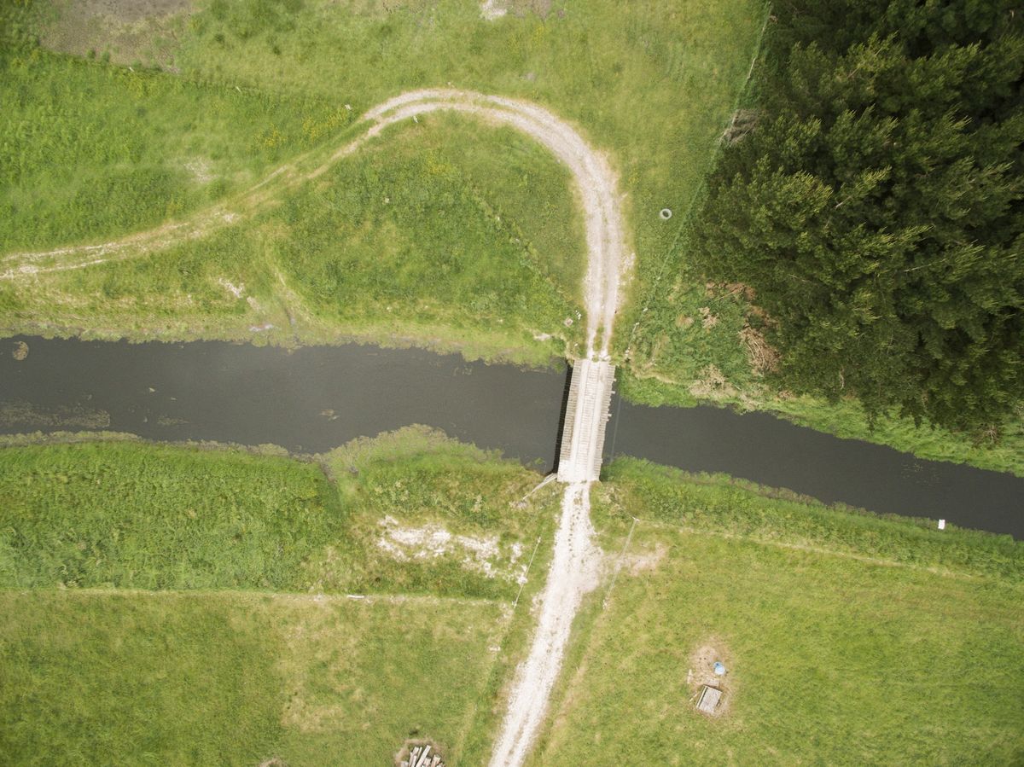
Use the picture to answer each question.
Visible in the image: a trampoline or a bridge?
bridge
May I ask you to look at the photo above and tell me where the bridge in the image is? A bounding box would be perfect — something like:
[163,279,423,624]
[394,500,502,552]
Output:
[556,358,617,486]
